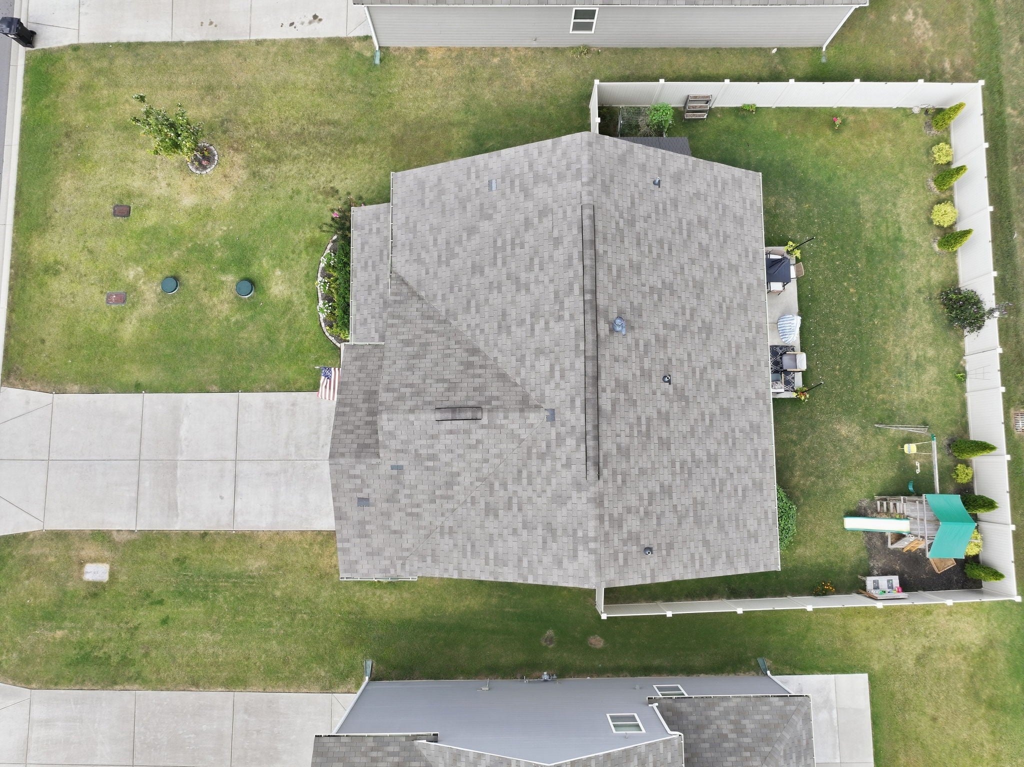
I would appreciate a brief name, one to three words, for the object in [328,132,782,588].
house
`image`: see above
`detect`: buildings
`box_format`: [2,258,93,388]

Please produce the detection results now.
[311,669,816,767]
[328,132,782,588]
[353,0,869,52]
